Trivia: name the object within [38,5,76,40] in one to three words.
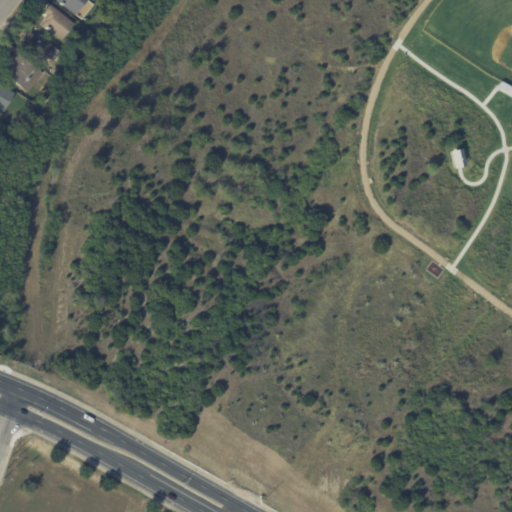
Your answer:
house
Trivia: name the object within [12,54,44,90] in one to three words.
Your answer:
house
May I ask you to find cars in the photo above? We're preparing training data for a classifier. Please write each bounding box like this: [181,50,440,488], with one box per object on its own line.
[20,408,29,414]
[10,424,20,433]
[84,414,94,422]
[168,492,178,499]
